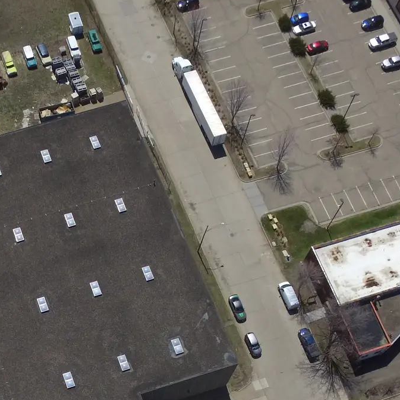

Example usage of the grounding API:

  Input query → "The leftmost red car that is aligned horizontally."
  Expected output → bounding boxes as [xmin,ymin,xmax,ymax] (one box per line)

[305,40,330,55]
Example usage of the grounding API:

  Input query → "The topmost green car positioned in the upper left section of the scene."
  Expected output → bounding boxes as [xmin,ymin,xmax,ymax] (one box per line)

[87,29,103,53]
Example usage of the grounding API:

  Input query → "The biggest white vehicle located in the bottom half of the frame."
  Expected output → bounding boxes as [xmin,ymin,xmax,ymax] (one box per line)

[279,281,302,313]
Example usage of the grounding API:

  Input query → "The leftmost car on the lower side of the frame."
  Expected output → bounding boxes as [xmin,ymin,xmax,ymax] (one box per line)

[228,295,245,322]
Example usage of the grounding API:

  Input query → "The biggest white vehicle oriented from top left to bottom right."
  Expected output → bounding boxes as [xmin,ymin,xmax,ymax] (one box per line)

[169,55,233,143]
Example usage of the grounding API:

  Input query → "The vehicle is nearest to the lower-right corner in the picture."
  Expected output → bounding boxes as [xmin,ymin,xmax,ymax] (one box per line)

[299,329,321,362]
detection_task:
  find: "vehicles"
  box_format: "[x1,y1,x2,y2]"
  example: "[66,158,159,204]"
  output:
[176,0,202,12]
[67,33,81,59]
[292,11,311,26]
[169,55,233,143]
[279,281,302,313]
[228,295,245,322]
[299,329,321,362]
[87,29,103,53]
[359,16,386,30]
[37,42,52,67]
[347,0,373,12]
[0,68,6,86]
[379,53,400,71]
[245,334,261,359]
[291,21,318,37]
[367,30,400,49]
[22,46,37,70]
[305,40,330,55]
[1,52,17,77]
